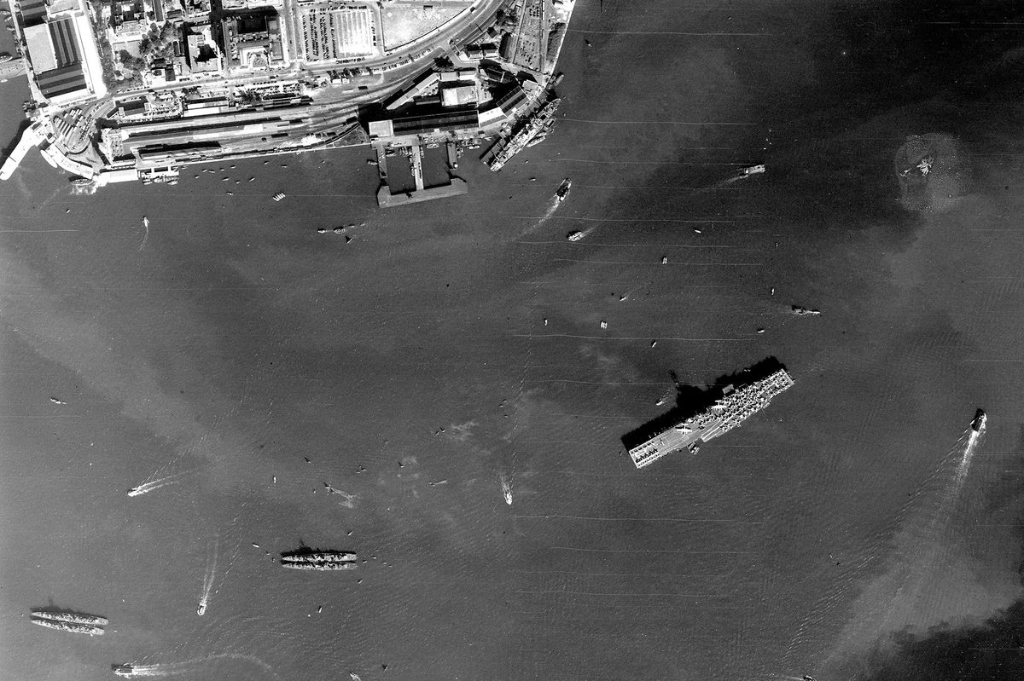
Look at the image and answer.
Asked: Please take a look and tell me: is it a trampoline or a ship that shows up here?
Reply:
ship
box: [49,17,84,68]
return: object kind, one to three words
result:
building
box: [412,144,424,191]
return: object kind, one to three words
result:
pier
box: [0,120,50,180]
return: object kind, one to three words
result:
pier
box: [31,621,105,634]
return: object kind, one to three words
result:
ship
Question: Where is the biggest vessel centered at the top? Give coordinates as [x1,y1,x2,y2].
[491,97,561,171]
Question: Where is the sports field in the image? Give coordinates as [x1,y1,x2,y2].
[383,6,465,49]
